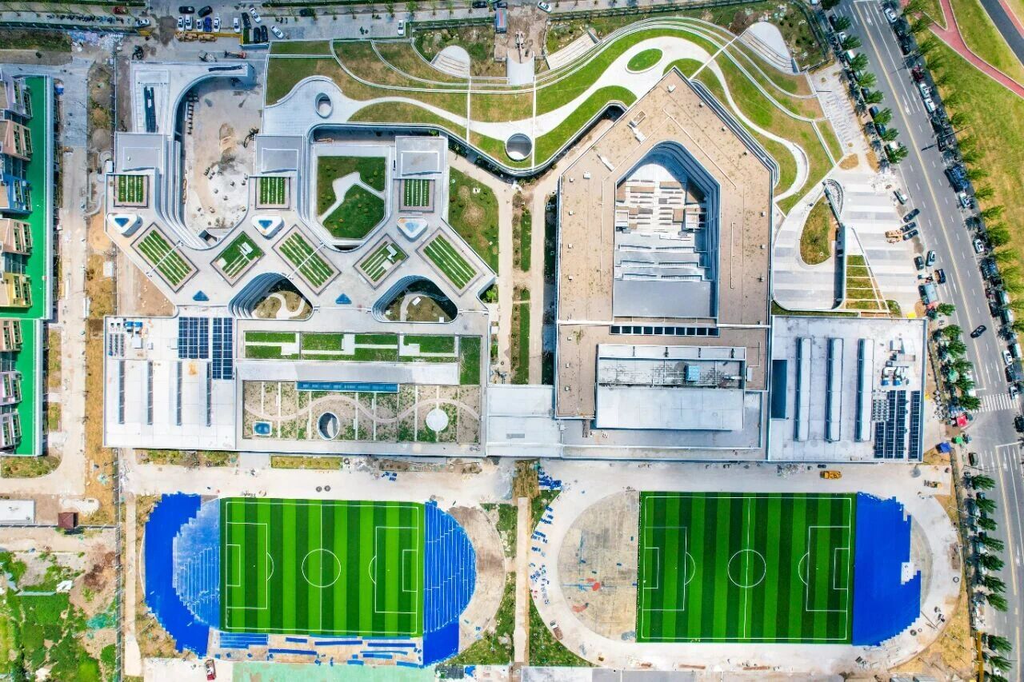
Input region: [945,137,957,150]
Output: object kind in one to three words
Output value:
vehicle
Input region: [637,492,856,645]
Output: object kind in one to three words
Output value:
soccer field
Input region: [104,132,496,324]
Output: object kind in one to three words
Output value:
building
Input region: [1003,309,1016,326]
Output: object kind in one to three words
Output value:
vehicle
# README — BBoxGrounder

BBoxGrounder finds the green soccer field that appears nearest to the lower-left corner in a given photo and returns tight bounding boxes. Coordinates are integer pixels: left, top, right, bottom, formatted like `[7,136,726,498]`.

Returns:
[220,497,424,638]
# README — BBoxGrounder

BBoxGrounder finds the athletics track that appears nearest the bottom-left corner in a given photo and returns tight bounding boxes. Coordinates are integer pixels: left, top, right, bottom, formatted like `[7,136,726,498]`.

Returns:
[138,489,508,666]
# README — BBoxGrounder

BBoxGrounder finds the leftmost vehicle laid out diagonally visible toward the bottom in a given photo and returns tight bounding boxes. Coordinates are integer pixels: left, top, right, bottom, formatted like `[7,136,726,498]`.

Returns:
[549,622,564,641]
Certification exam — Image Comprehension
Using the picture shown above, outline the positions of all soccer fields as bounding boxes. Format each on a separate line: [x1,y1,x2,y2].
[637,492,856,645]
[220,497,424,638]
